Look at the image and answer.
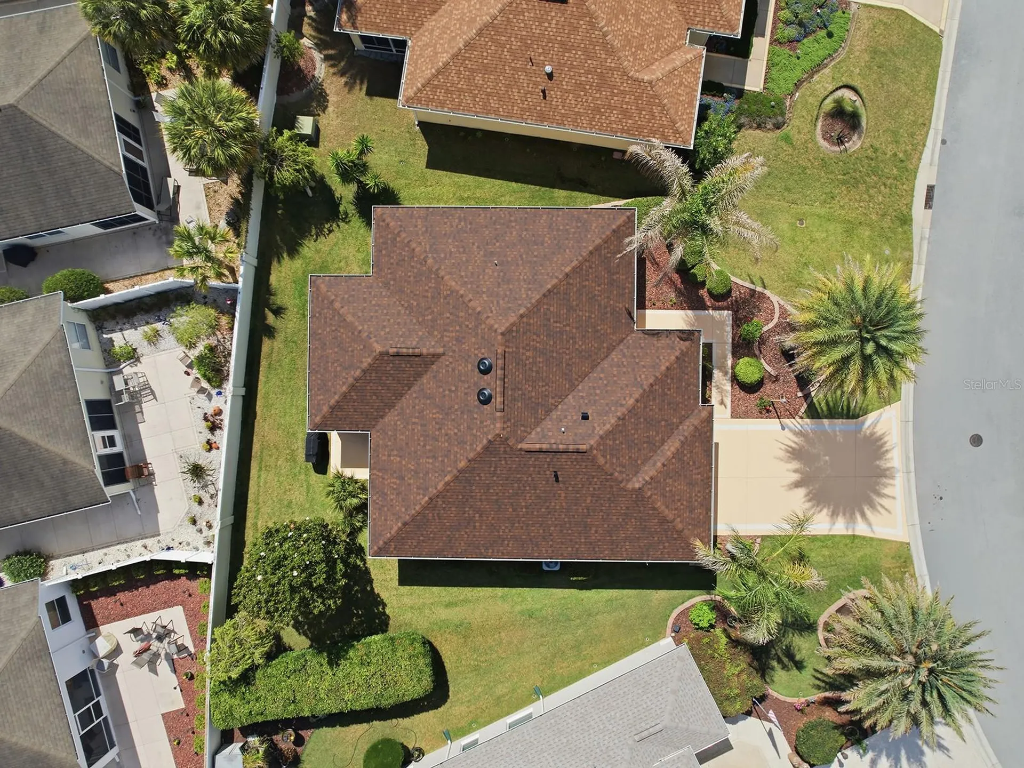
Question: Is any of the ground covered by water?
No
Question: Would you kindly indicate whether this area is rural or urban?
urban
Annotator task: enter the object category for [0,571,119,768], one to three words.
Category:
house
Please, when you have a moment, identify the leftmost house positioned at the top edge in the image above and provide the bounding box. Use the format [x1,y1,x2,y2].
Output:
[0,7,158,249]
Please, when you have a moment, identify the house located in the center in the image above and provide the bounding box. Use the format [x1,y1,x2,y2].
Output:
[308,207,713,560]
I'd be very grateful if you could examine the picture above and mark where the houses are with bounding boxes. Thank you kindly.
[0,7,158,249]
[335,0,746,157]
[0,293,139,528]
[308,207,713,560]
[403,638,731,768]
[0,571,119,768]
